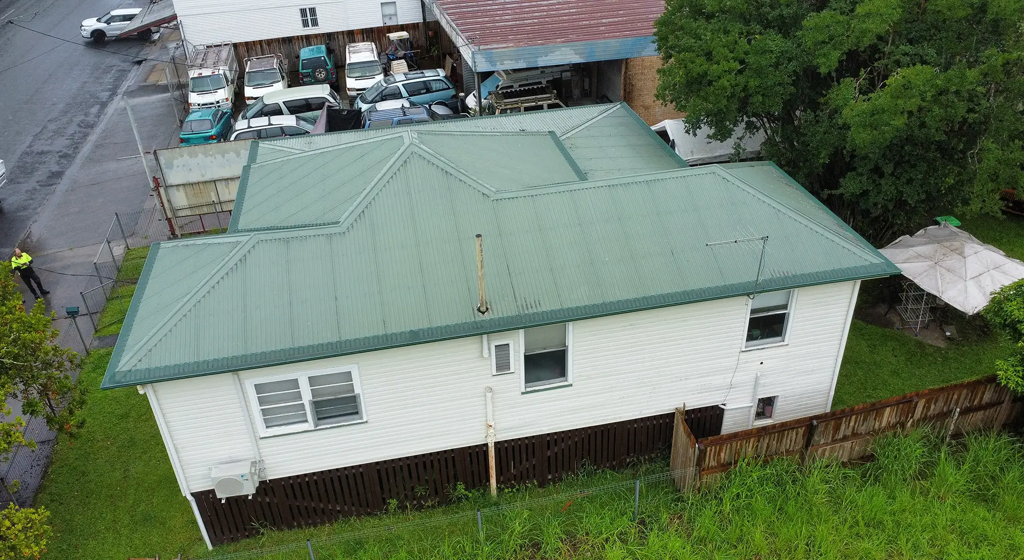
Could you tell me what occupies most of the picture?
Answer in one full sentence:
Most of the picture is covered by buildings.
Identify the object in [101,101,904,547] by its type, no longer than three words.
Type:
house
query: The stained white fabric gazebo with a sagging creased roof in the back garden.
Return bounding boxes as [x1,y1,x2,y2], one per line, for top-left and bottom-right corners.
[879,218,1024,341]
